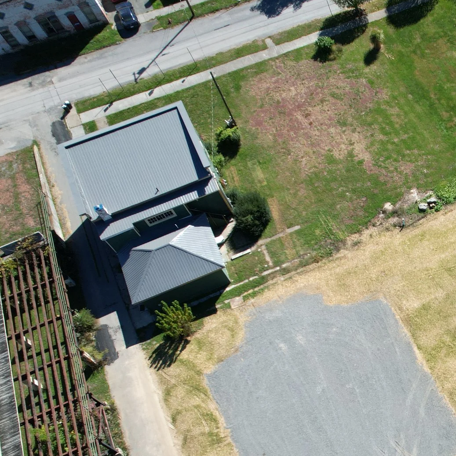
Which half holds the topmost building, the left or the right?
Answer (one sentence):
It is on the left.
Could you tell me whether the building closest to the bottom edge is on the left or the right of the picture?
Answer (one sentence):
It is on the left.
